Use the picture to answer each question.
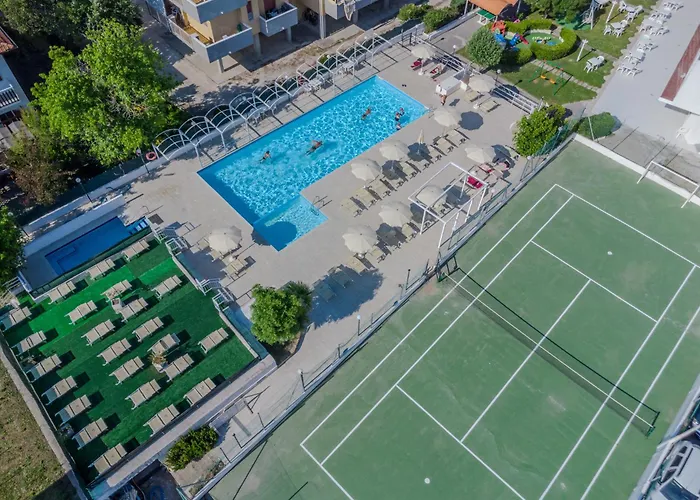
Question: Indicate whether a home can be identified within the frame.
Yes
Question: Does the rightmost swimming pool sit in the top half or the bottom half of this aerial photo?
top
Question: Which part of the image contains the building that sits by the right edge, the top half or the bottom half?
top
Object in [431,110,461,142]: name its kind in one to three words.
umbrella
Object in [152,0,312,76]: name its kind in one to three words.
house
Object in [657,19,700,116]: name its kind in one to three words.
building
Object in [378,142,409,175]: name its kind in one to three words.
umbrella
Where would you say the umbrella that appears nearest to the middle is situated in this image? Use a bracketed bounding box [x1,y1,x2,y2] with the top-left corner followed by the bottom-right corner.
[342,226,377,261]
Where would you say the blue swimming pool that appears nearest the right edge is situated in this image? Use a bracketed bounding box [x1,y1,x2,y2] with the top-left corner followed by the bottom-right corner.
[196,74,435,253]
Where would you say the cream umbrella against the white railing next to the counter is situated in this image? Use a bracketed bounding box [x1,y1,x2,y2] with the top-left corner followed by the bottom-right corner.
[466,77,494,107]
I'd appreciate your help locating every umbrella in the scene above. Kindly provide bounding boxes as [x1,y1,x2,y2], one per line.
[466,77,494,107]
[379,203,412,237]
[349,161,381,194]
[464,146,495,179]
[378,142,409,175]
[416,125,425,155]
[410,46,435,75]
[412,186,445,220]
[431,110,461,142]
[208,228,245,263]
[342,226,377,261]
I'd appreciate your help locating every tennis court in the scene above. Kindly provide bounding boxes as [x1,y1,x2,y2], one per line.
[205,141,700,500]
